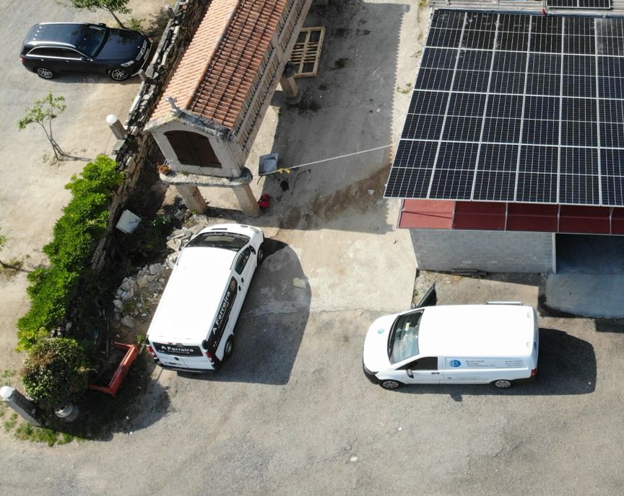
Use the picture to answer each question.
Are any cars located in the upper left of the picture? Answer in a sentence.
Yes, a car is visible in the upper left of the picture.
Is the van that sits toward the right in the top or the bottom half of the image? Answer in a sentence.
The bottom half of the photo is where the van that sits toward the right is.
